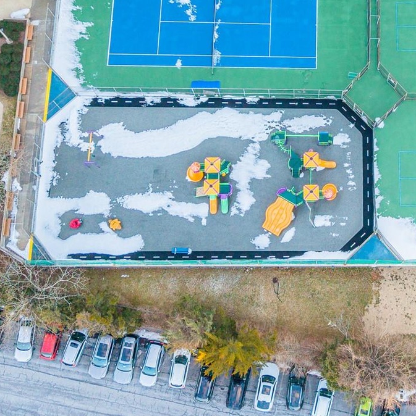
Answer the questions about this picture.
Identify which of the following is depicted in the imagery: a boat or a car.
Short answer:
car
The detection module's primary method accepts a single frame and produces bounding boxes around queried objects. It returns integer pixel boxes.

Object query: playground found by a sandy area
[34,96,373,260]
